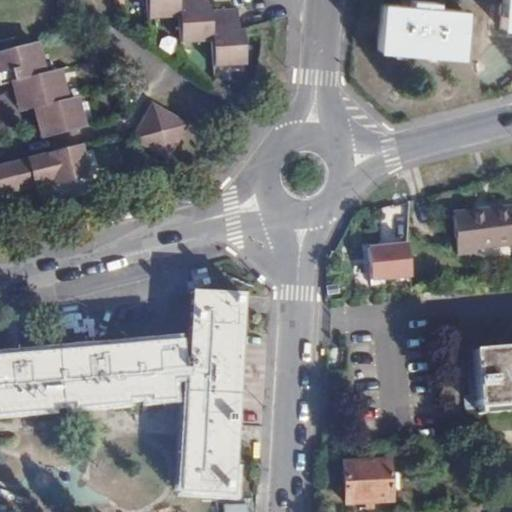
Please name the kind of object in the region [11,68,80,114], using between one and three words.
house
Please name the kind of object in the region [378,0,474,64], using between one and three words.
building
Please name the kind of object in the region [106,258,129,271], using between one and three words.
vehicle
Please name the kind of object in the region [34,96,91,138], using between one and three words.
house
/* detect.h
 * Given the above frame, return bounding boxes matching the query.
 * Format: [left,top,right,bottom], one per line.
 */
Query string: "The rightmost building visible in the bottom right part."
[470,334,512,414]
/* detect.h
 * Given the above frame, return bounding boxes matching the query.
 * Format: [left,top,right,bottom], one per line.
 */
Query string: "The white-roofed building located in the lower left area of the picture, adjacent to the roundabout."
[0,284,250,500]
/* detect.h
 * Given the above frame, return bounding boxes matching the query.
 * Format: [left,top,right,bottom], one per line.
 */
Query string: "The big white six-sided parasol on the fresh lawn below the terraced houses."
[159,35,176,54]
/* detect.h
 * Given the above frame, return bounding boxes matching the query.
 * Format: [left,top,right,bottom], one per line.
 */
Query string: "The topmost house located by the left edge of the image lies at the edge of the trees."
[0,41,55,83]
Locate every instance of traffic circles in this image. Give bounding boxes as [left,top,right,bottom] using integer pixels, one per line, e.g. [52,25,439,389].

[226,100,378,272]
